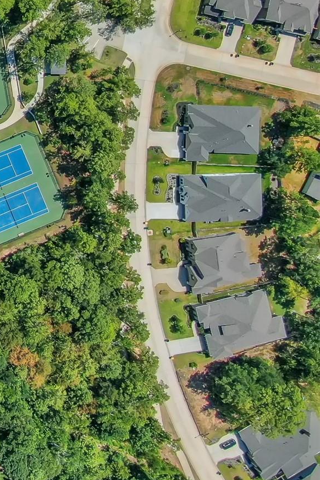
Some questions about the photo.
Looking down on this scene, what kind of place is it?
residential area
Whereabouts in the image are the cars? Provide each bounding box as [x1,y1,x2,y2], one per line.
[227,22,235,36]
[221,440,236,450]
